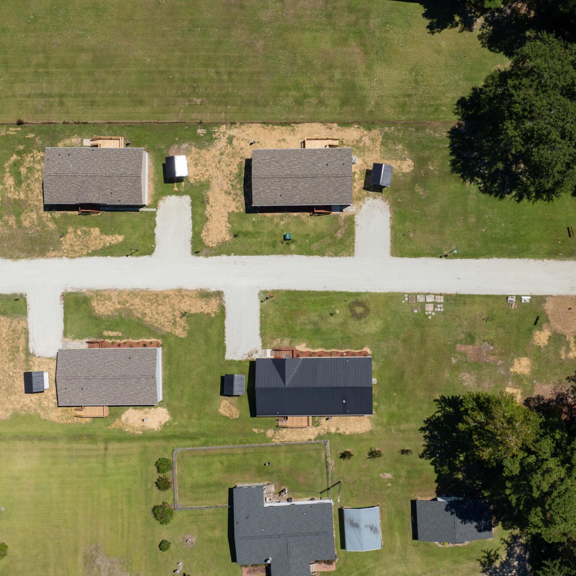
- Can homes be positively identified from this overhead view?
Yes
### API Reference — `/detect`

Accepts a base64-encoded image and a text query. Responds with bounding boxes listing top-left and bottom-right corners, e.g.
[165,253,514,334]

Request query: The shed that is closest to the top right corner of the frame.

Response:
[371,162,393,188]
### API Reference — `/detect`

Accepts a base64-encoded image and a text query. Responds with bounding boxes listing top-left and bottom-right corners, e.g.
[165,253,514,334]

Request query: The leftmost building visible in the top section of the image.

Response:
[42,137,148,208]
